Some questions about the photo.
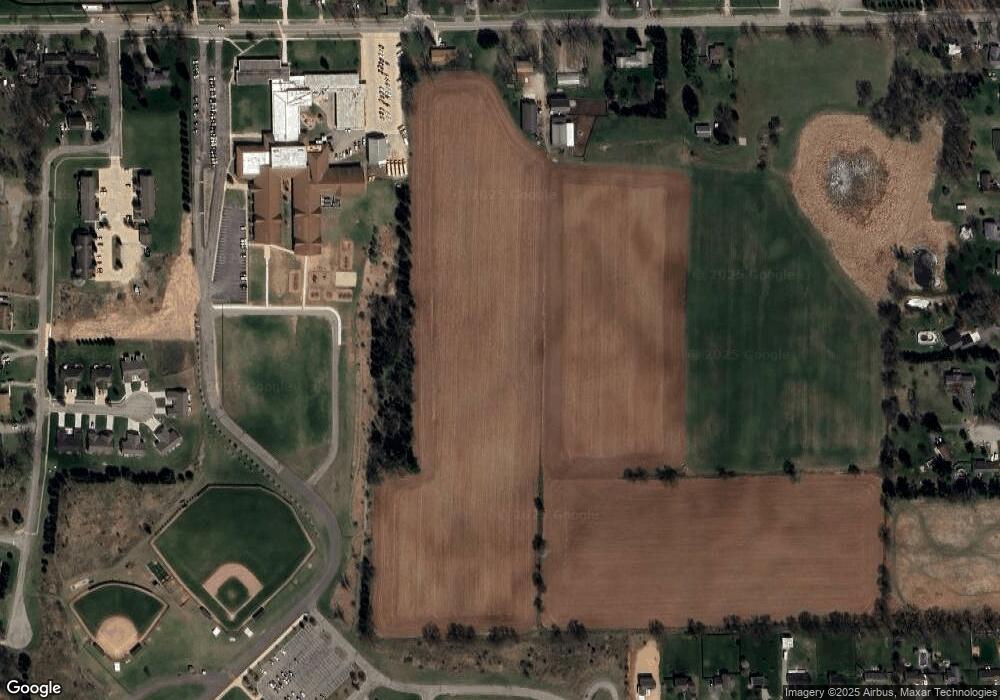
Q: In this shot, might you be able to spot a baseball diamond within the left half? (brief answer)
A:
Yes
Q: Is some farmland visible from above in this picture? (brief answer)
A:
Yes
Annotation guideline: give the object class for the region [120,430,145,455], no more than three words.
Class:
house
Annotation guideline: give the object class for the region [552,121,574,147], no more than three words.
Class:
barn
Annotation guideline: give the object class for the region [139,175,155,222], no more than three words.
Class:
building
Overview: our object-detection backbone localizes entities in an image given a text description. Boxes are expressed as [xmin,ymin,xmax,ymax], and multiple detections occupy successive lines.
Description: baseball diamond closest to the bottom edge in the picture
[70,583,169,660]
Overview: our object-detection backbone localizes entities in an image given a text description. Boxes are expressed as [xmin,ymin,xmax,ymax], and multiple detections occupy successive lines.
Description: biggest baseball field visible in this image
[150,486,314,630]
